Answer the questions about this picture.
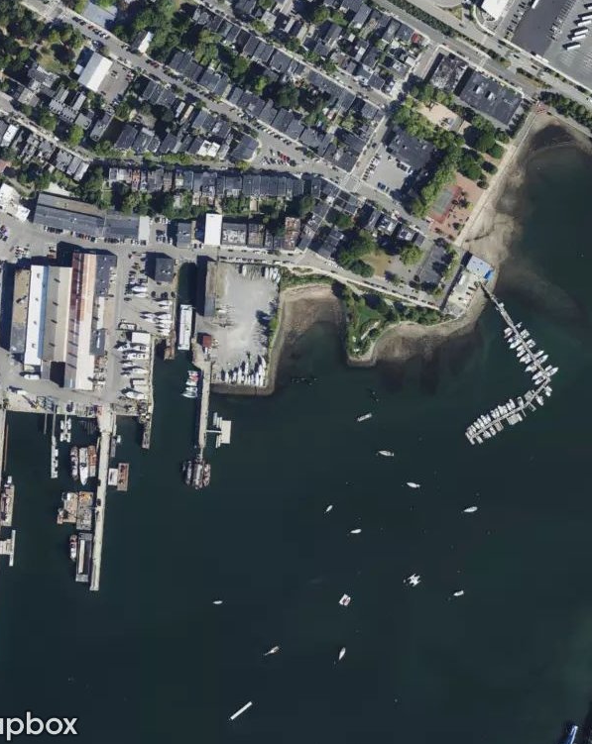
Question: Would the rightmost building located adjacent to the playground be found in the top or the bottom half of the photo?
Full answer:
You can find the rightmost building located adjacent to the playground in the top half.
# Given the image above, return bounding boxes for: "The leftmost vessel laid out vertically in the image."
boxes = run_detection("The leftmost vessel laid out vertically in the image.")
[0,475,14,525]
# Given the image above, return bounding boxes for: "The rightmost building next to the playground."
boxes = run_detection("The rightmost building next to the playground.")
[458,71,521,128]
